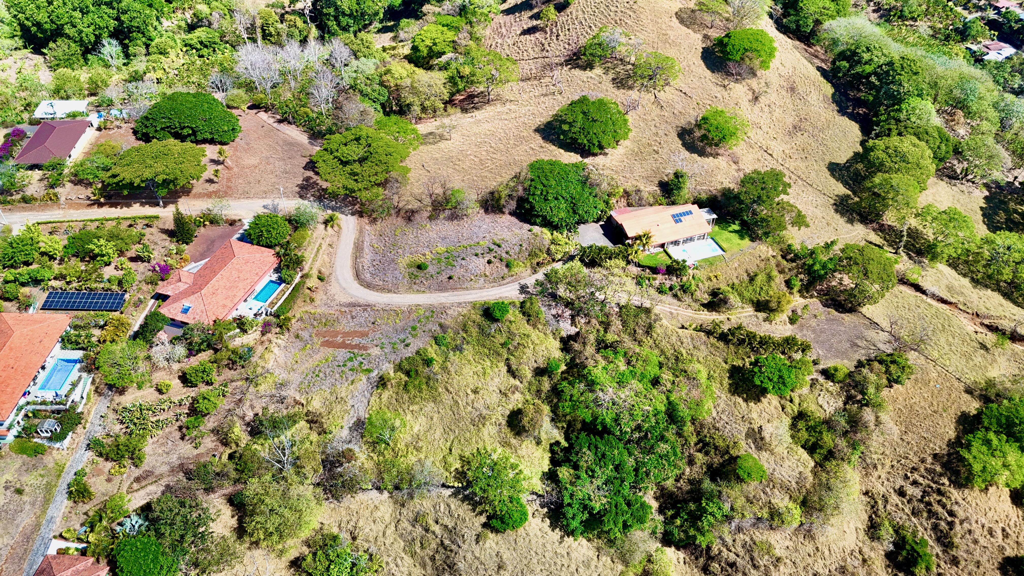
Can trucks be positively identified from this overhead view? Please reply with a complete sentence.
No, there isn't any truck down there.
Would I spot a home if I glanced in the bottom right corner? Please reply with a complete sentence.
No, I see no home in the bottom right corner.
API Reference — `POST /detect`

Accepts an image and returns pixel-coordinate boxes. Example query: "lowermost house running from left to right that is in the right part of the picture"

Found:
[603,202,715,252]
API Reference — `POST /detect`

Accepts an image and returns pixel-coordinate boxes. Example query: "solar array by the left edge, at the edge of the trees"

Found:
[42,292,128,312]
